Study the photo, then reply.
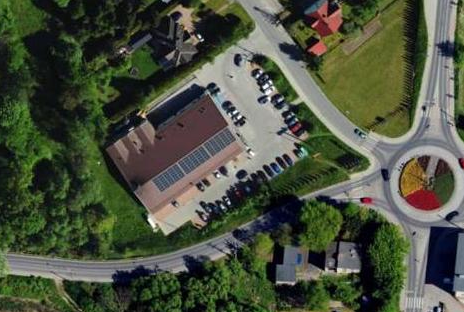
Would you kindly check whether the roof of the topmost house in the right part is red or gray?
red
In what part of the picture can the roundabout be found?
right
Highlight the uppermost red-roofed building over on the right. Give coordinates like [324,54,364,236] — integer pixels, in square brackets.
[306,0,348,40]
